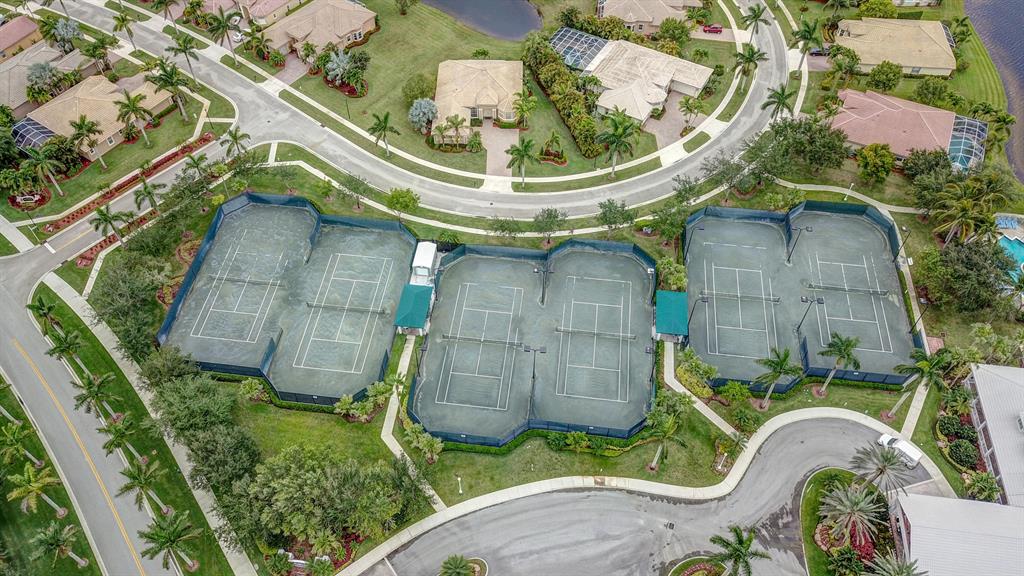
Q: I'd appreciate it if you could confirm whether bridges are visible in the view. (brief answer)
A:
No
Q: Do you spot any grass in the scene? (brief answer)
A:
Yes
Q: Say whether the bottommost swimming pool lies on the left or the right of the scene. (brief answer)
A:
right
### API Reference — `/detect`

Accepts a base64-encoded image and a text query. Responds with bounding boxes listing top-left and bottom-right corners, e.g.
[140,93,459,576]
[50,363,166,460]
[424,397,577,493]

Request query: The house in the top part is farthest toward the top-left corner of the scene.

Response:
[0,18,42,60]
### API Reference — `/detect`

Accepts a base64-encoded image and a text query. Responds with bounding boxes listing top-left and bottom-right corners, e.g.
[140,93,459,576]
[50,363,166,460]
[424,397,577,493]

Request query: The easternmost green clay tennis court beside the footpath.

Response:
[790,211,921,384]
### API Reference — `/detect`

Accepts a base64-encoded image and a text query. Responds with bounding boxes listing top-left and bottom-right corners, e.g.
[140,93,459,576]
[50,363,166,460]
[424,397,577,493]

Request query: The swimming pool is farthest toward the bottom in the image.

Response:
[985,212,1024,326]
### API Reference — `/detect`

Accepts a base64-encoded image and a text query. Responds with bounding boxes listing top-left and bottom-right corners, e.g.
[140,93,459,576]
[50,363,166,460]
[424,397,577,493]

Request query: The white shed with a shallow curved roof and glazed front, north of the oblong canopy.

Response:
[412,242,438,276]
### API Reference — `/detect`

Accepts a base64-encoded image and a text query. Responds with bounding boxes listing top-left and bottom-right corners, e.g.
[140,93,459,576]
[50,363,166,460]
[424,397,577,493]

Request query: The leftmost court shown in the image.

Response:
[166,204,312,375]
